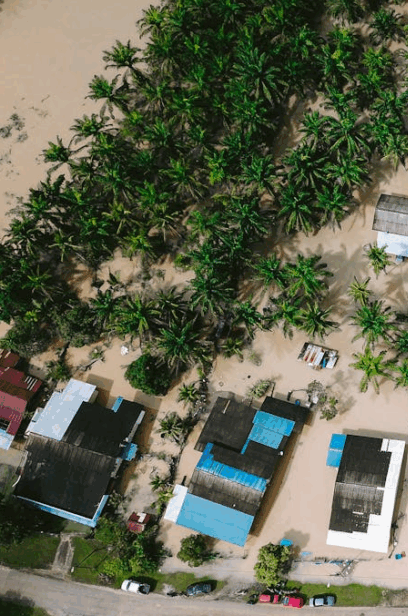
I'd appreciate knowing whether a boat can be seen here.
No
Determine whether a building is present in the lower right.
Yes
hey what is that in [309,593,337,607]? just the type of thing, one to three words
car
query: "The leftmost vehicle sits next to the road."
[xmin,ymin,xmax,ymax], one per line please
[121,578,152,594]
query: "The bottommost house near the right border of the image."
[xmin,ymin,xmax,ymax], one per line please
[326,433,405,553]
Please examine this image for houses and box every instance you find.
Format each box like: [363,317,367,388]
[372,194,408,257]
[164,396,312,547]
[326,433,405,553]
[15,379,149,526]
[0,349,50,450]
